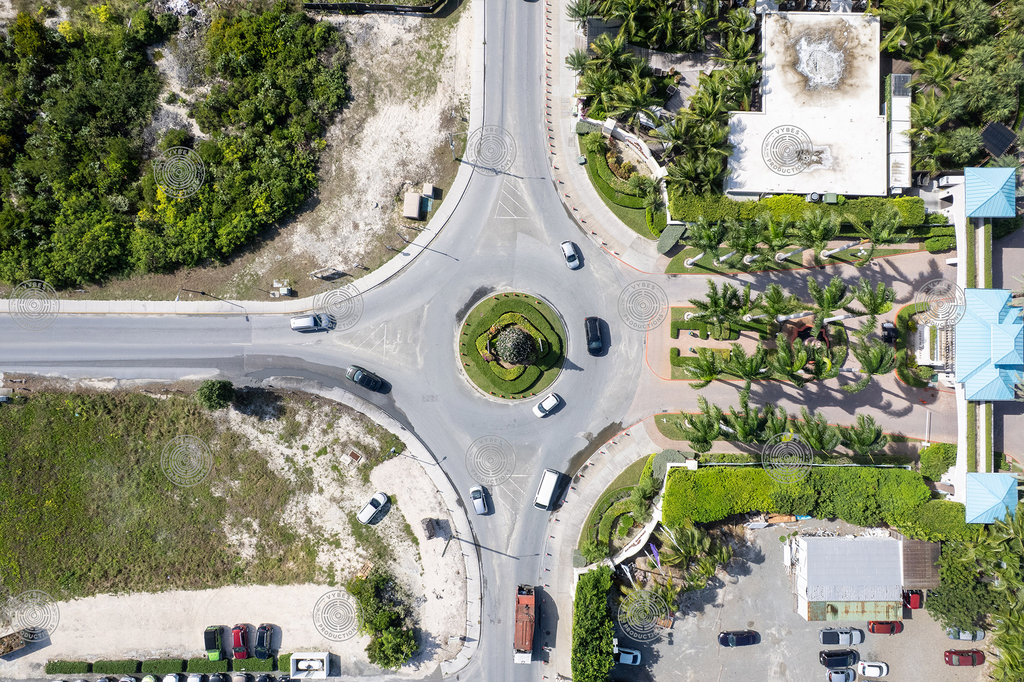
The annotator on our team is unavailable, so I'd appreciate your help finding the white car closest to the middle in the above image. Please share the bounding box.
[532,390,560,420]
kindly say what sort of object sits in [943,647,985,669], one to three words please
car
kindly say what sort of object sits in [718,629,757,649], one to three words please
car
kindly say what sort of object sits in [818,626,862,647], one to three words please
truck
